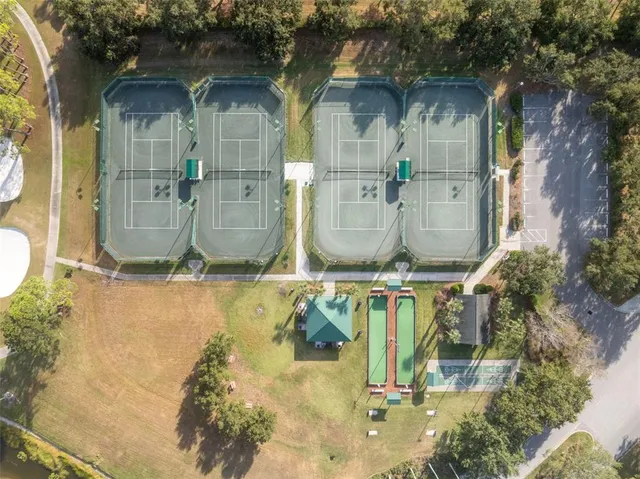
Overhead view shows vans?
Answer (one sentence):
No, I can't see a single van in this photo.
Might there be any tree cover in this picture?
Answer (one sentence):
Yes, the picture does contain tree cover.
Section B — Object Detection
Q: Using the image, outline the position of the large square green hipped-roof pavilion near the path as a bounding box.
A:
[307,296,352,341]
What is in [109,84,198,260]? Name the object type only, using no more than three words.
tennis court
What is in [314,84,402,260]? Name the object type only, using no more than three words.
tennis court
